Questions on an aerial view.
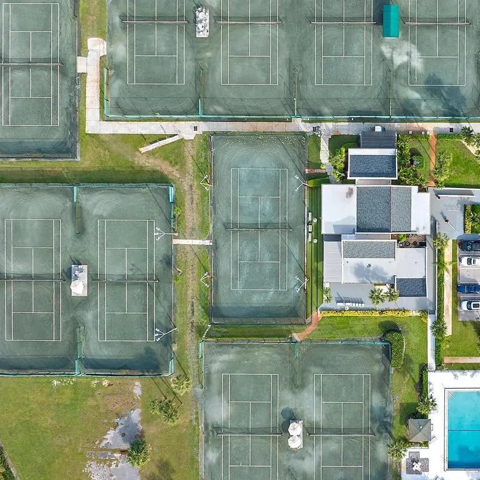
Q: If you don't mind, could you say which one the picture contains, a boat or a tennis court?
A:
tennis court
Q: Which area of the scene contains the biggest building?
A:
right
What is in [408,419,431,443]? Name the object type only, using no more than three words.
gazebo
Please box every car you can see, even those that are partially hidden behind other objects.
[460,240,480,251]
[456,283,480,293]
[460,256,480,266]
[461,299,480,311]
